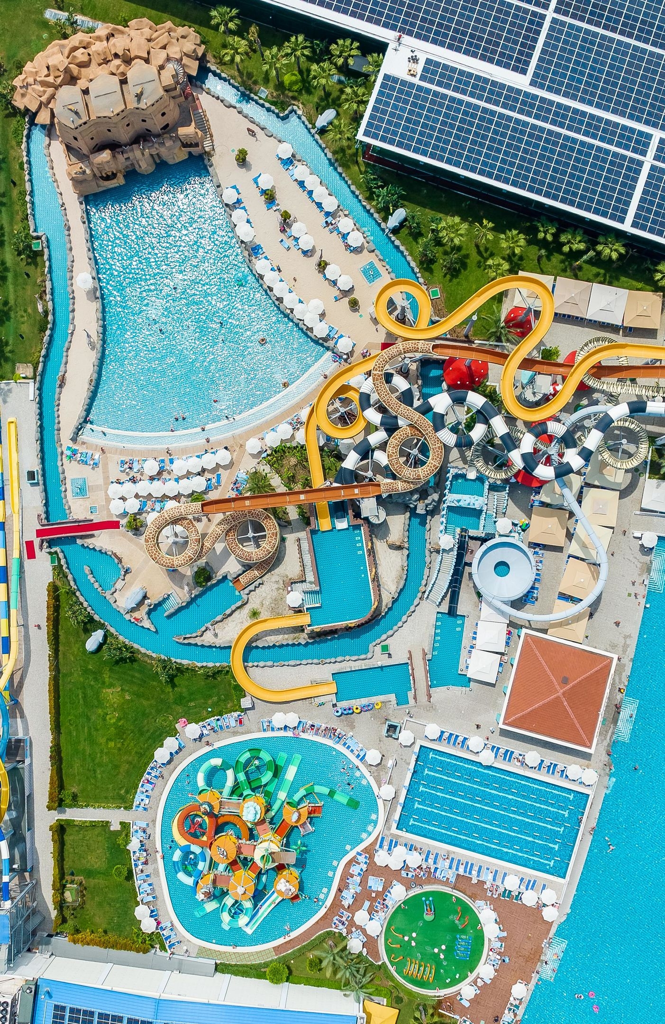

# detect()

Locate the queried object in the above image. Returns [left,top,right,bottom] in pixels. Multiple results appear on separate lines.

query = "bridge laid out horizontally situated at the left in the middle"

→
[36,515,120,550]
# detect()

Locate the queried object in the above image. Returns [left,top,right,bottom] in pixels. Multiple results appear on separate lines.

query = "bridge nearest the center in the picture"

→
[407,649,433,703]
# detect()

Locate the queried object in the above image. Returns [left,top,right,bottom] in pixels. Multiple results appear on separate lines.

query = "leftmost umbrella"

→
[78,274,93,290]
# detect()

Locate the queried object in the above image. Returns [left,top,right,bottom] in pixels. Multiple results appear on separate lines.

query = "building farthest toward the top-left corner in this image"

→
[9,18,209,196]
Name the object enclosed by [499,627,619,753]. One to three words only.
building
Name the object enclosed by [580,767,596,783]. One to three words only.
umbrella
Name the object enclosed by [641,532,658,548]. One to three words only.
umbrella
